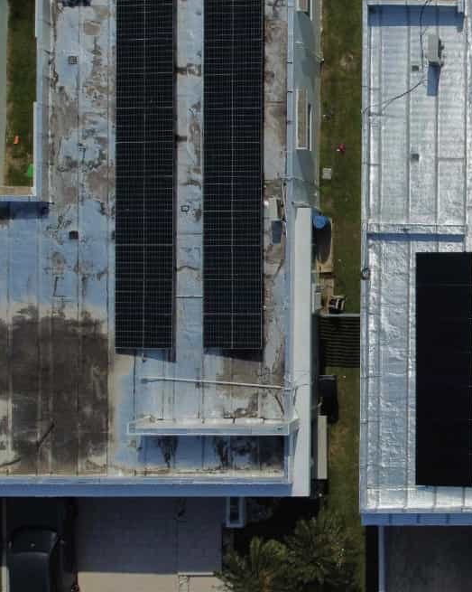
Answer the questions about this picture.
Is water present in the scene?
No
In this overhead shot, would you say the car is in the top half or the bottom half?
bottom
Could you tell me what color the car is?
black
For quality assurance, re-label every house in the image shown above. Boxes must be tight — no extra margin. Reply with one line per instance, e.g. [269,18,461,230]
[0,0,324,496]
[362,0,472,524]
